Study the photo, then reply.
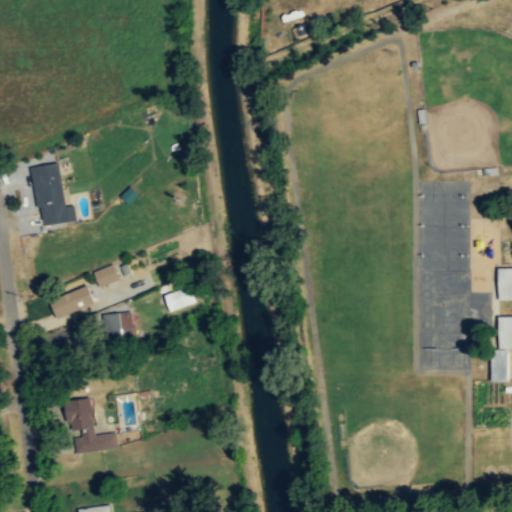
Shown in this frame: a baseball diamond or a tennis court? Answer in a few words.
baseball diamond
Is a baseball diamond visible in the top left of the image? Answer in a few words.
No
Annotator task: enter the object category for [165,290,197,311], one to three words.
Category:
house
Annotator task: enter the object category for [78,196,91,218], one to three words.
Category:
swimming pool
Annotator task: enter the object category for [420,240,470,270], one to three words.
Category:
basketball court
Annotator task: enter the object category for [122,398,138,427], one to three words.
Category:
swimming pool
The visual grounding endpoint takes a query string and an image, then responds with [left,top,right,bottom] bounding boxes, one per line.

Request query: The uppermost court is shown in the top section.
[420,182,470,212]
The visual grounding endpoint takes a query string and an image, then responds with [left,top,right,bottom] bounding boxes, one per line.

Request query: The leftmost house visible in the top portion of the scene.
[29,162,76,225]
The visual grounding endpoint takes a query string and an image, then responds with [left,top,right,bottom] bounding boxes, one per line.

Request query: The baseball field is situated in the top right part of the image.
[420,30,512,171]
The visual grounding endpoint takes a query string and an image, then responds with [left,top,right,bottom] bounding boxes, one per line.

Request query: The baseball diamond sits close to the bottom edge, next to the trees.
[340,384,464,488]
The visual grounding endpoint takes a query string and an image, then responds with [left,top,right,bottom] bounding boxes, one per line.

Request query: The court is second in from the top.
[420,211,470,240]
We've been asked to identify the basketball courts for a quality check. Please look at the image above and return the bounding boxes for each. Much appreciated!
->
[420,240,470,270]
[420,211,470,240]
[420,182,470,212]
